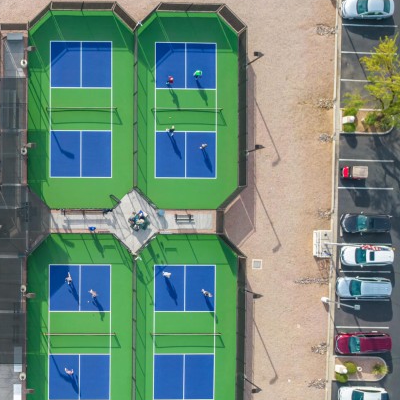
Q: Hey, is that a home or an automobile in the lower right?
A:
automobile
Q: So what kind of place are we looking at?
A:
sports ground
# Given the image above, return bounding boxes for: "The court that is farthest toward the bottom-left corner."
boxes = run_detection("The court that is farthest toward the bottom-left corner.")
[28,234,134,400]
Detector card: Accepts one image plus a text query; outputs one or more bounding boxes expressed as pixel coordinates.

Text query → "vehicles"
[339,275,398,300]
[341,166,375,179]
[340,385,392,400]
[343,0,398,20]
[342,244,398,268]
[337,331,398,356]
[342,212,398,236]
